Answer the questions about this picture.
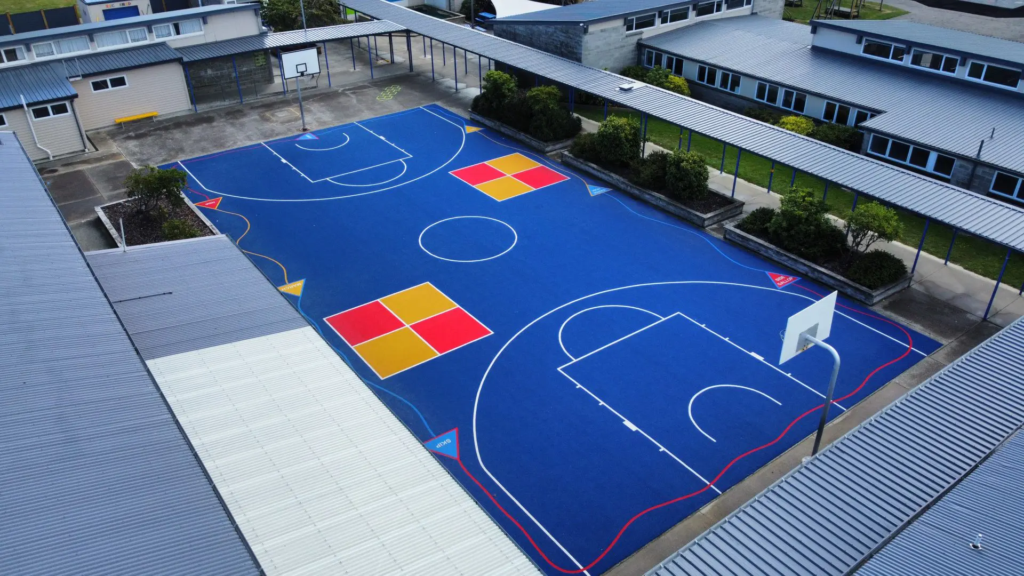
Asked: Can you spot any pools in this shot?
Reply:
No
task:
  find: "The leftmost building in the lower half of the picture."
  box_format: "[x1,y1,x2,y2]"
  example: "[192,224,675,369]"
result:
[0,130,266,576]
